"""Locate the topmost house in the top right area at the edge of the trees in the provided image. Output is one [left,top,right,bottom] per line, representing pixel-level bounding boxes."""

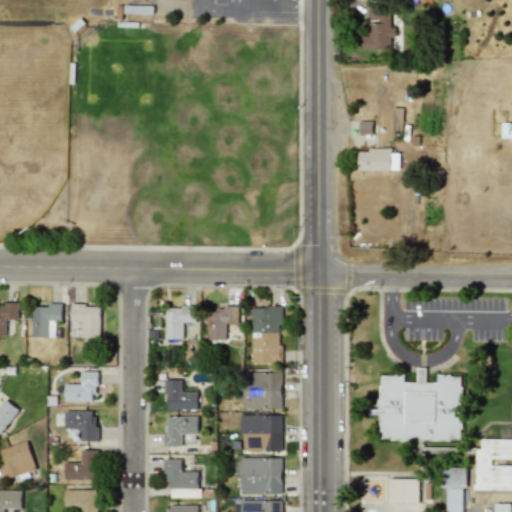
[363,13,399,50]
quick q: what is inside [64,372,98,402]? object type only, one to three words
house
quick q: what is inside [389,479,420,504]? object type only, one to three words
building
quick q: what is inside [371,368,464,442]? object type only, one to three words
building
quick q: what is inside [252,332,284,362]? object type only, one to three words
house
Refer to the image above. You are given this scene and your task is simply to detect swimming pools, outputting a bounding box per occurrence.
[208,499,216,512]
[442,3,453,14]
[192,373,212,383]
